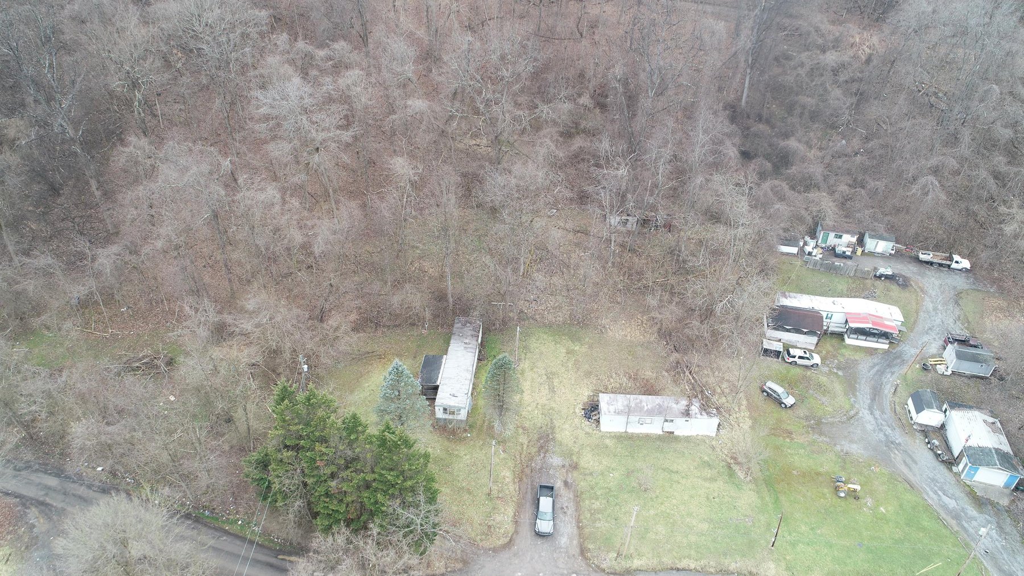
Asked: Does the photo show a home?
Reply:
Yes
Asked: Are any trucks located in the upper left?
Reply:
No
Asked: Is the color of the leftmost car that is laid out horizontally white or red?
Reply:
white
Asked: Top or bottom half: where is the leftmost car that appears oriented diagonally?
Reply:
bottom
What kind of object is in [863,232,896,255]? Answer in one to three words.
shed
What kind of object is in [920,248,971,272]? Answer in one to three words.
truck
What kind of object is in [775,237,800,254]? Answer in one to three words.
shed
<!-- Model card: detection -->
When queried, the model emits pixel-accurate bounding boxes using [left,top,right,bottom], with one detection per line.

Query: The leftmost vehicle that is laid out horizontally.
[785,347,824,368]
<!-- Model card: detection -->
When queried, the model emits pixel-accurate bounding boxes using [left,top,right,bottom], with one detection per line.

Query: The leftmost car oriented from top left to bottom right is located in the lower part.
[760,377,797,408]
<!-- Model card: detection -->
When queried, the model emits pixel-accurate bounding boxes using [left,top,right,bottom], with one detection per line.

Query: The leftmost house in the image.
[418,316,482,427]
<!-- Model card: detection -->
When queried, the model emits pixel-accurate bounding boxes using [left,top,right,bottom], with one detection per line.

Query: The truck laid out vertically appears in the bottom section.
[535,481,557,533]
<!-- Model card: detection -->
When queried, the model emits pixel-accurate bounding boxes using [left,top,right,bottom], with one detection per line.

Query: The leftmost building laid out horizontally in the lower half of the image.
[600,393,721,436]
